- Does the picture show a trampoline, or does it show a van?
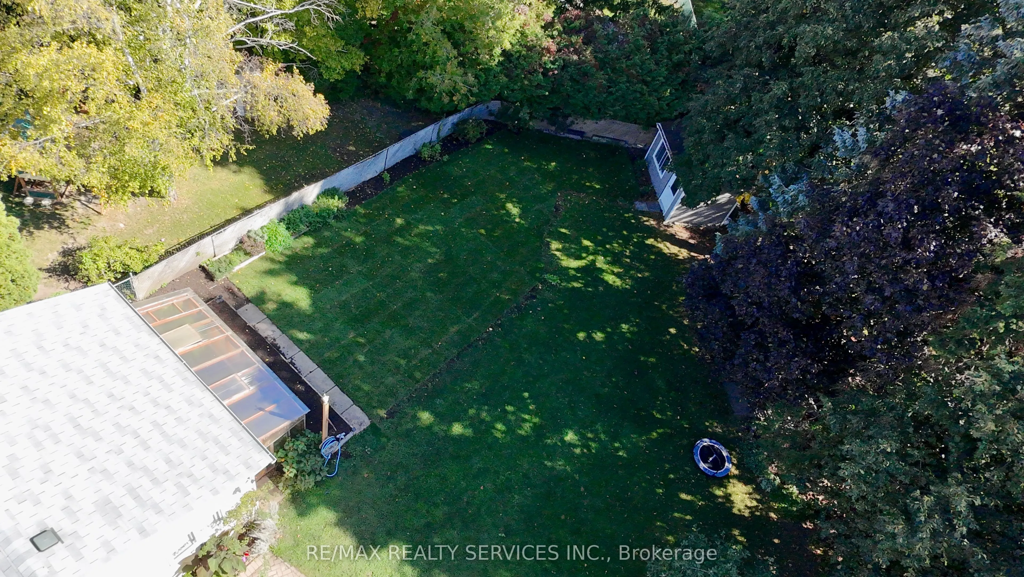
trampoline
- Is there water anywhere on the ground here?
No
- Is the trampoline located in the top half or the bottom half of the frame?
bottom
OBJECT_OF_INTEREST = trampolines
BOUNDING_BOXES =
[693,438,732,479]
